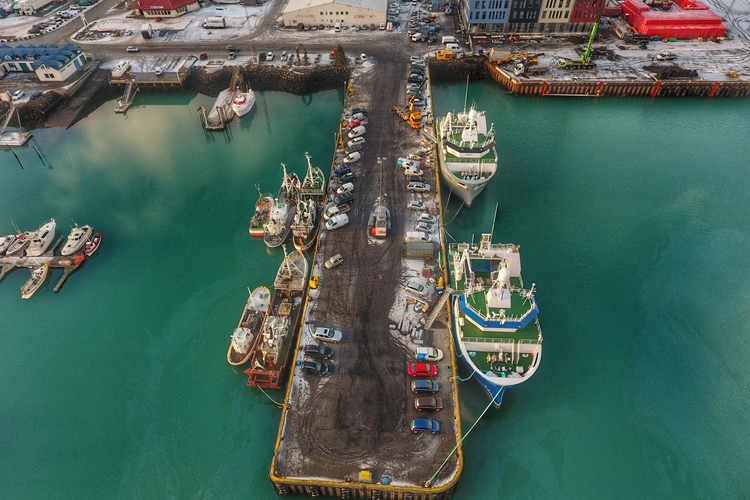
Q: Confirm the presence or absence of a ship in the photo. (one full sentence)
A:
Yes, the image includes a ship.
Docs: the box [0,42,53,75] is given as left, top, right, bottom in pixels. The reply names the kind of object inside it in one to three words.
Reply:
shed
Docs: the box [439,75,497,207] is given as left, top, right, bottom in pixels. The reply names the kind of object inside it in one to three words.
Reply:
ship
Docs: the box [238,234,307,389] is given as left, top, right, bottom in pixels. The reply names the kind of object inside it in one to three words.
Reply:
boat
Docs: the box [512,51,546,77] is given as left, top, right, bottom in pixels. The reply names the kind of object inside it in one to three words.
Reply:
truck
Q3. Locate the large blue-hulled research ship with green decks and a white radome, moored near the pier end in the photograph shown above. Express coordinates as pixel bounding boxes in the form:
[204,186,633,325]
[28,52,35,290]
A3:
[448,207,543,406]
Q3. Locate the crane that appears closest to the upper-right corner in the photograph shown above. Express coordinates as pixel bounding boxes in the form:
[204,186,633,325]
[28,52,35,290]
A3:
[557,0,605,70]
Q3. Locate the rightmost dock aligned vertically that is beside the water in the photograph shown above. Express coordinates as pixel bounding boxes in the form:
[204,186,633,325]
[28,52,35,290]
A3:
[268,62,465,500]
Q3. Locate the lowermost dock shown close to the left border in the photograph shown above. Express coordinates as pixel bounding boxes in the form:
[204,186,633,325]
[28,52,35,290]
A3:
[0,236,87,293]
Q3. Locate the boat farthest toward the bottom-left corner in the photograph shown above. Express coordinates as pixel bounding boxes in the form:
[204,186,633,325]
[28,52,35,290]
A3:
[18,262,51,301]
